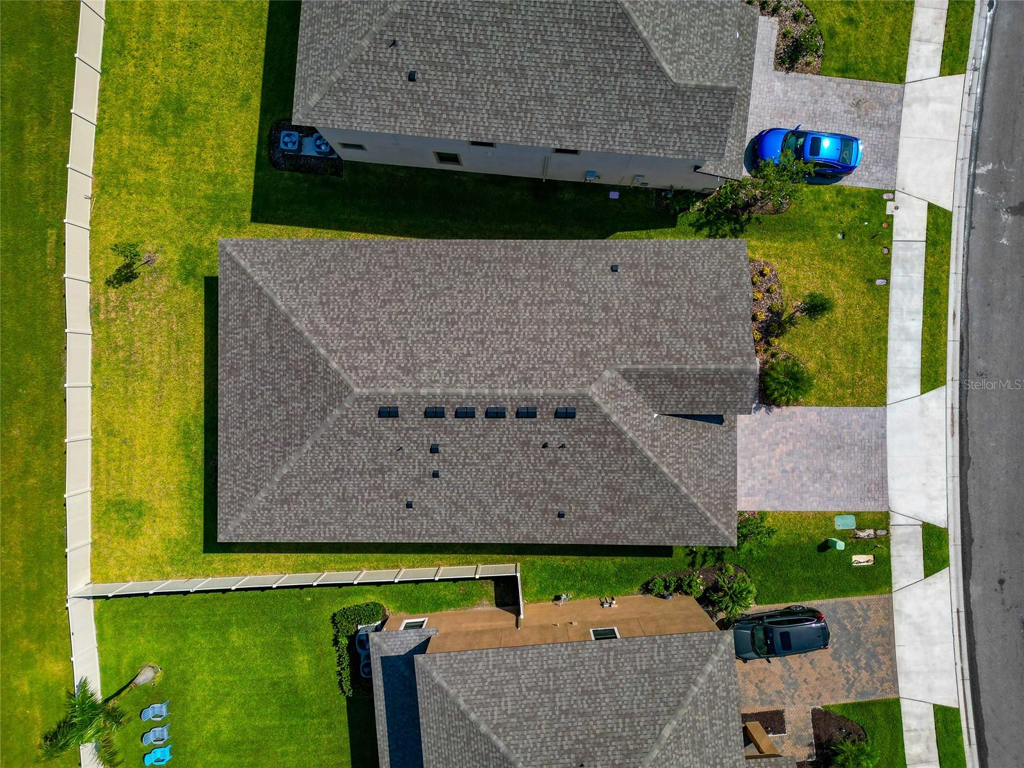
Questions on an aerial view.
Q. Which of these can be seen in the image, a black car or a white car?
black car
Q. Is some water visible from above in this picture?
No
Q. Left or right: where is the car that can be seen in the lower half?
right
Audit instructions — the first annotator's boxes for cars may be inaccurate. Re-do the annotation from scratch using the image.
[751,125,862,180]
[719,603,830,662]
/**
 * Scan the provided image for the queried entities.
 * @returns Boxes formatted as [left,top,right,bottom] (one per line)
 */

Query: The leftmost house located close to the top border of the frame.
[292,0,758,192]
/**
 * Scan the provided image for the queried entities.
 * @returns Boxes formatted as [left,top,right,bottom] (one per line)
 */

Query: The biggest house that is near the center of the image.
[218,239,760,547]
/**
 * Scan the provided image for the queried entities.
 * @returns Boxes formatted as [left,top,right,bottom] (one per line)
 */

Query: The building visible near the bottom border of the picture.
[369,596,798,768]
